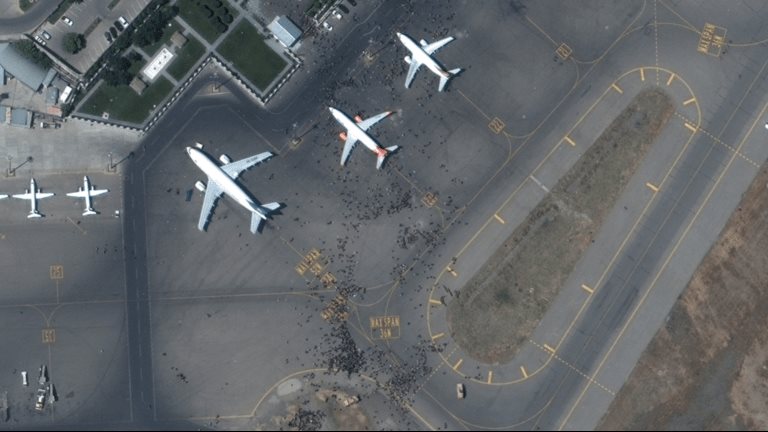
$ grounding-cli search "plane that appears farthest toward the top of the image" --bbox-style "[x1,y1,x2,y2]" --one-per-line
[397,32,460,88]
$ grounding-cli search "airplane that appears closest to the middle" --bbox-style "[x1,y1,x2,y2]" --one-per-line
[329,106,399,168]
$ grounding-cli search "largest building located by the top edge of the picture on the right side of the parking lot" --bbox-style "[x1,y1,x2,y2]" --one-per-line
[264,15,302,50]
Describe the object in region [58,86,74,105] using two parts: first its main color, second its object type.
white vehicle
